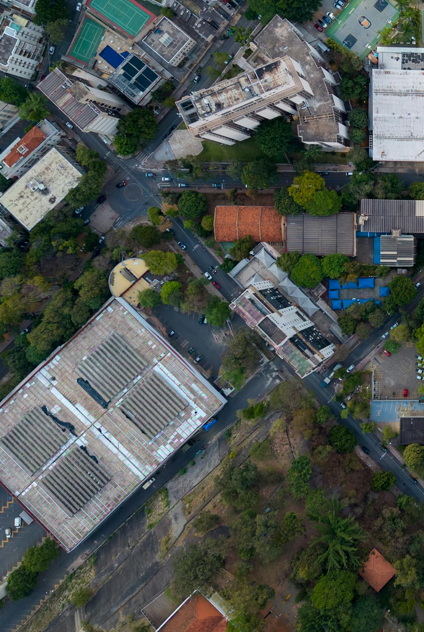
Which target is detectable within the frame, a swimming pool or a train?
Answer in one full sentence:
It is a swimming pool that can be seen here.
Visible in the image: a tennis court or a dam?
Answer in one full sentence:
Visible in the photo is a tennis court.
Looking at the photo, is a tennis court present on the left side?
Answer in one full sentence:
Yes, looking on the left side, one can make out a tennis court.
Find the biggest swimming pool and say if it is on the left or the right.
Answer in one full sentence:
The biggest swimming pool appears in the left half of the scene.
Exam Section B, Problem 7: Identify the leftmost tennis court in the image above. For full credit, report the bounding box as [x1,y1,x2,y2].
[69,18,104,65]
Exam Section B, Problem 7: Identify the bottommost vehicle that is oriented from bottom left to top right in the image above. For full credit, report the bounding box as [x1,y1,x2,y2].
[141,474,158,492]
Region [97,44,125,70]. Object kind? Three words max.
swimming pool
